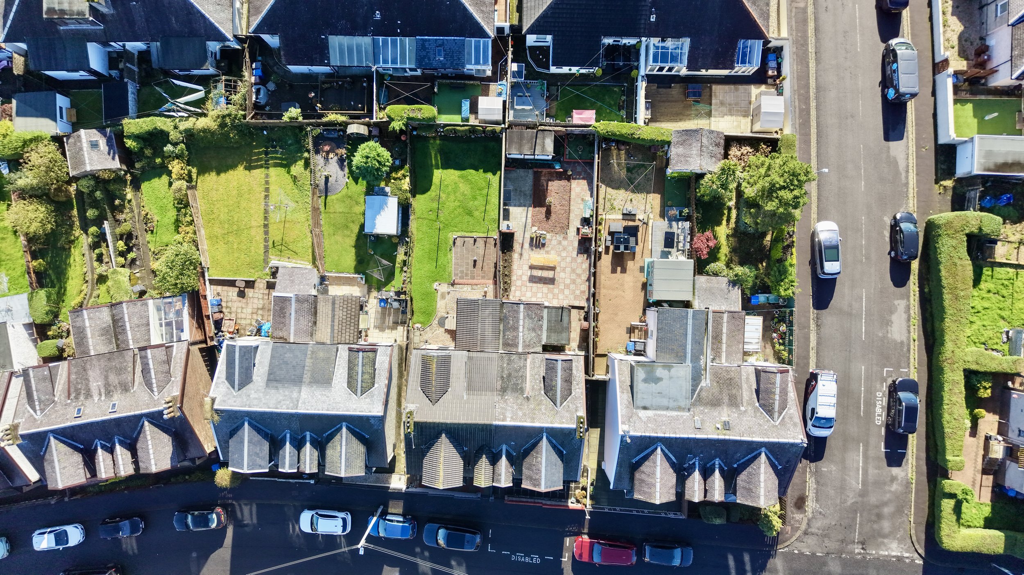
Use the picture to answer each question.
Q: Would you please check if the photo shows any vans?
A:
Yes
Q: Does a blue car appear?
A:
Yes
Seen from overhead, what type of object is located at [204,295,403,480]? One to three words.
house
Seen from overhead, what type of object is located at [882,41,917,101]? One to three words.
van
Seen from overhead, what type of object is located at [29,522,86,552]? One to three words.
car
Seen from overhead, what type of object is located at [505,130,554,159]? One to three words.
shed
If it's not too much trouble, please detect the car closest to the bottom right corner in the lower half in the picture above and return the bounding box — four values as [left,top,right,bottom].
[886,378,921,433]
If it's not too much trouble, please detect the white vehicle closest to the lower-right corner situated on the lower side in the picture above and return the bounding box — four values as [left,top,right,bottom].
[806,372,839,432]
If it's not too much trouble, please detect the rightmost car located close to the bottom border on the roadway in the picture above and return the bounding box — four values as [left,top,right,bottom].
[643,541,694,572]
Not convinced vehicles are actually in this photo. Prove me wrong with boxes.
[0,535,11,560]
[812,222,844,276]
[173,507,227,535]
[886,378,921,433]
[97,514,145,543]
[575,537,638,568]
[423,522,483,553]
[889,212,921,261]
[300,509,352,538]
[882,41,917,101]
[643,541,694,572]
[29,522,86,552]
[369,514,418,543]
[806,372,839,432]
